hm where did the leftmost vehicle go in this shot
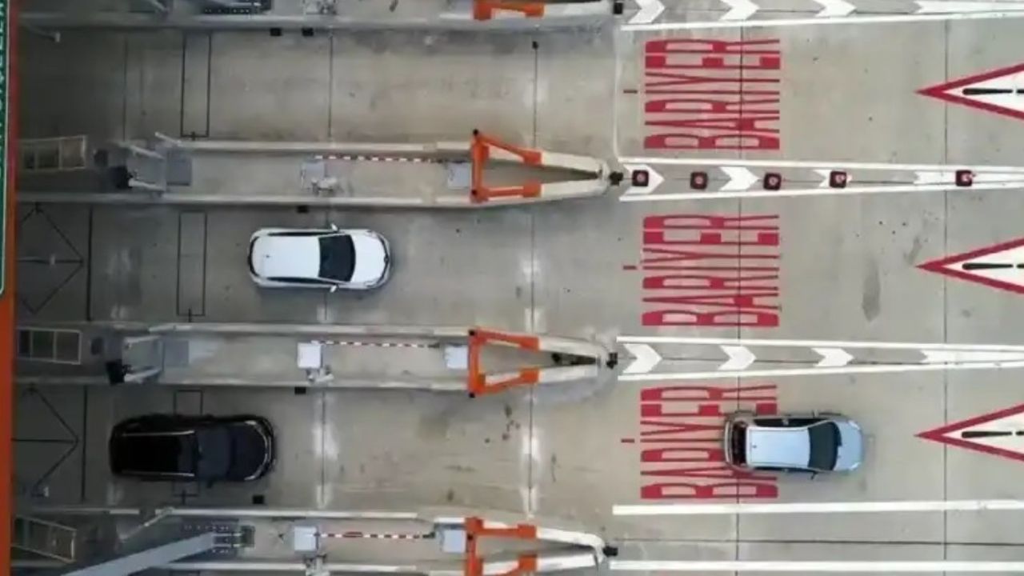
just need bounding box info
[108,413,275,486]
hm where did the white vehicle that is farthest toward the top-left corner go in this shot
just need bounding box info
[248,224,394,293]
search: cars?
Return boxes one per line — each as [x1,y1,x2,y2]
[248,224,394,293]
[725,411,866,479]
[108,413,275,486]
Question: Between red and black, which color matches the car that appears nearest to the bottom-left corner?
black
